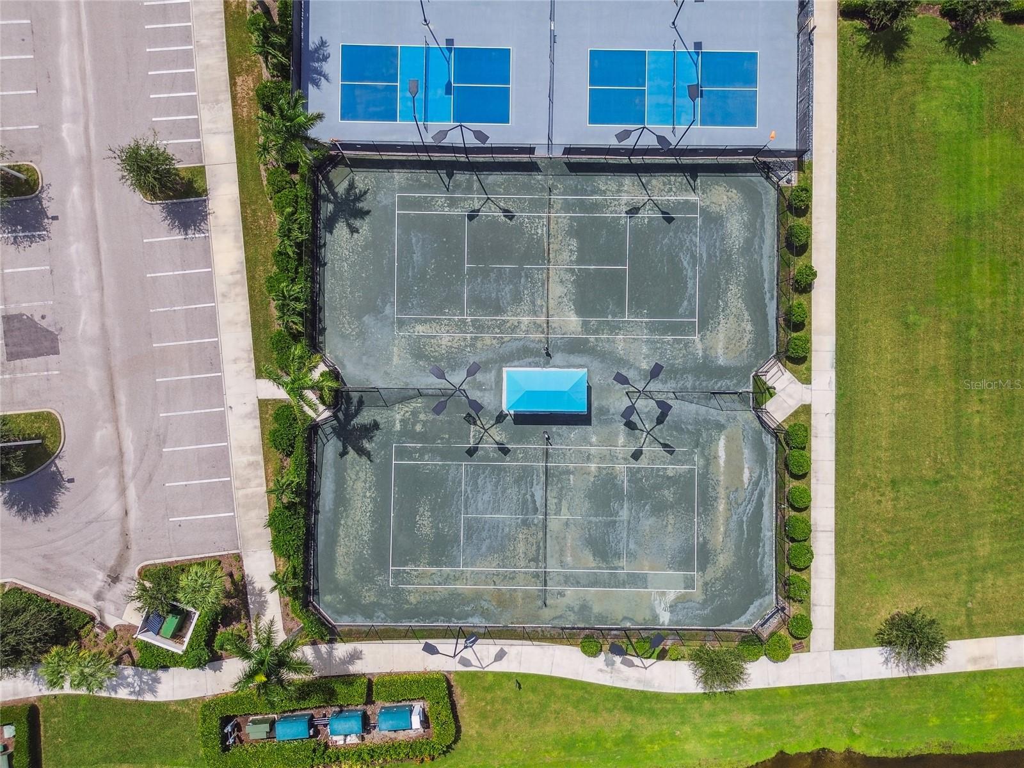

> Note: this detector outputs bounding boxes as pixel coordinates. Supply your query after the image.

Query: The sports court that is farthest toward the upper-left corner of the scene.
[302,0,551,156]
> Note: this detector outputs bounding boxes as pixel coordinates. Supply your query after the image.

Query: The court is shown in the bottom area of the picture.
[313,390,777,629]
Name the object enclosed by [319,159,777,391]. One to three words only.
tennis court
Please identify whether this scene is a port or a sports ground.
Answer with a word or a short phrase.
sports ground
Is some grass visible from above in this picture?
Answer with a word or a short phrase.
Yes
